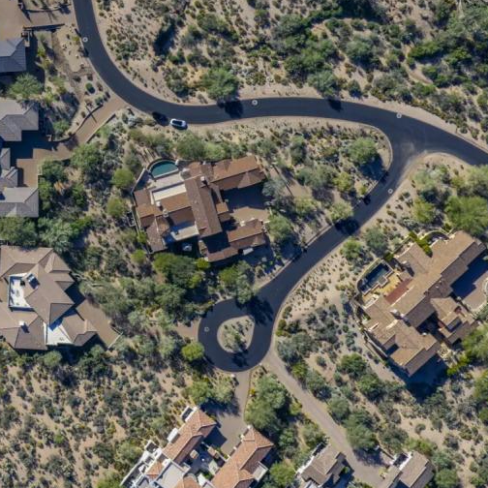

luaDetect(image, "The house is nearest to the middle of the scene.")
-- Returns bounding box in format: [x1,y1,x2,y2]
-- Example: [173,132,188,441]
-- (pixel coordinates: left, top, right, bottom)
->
[134,154,266,261]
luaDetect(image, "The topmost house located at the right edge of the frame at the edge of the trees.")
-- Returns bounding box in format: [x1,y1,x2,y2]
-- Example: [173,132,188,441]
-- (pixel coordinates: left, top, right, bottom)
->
[361,230,485,376]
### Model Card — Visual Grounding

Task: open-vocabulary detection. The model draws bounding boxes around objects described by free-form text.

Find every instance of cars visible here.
[153,112,170,125]
[171,119,187,128]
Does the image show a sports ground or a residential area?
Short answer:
residential area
